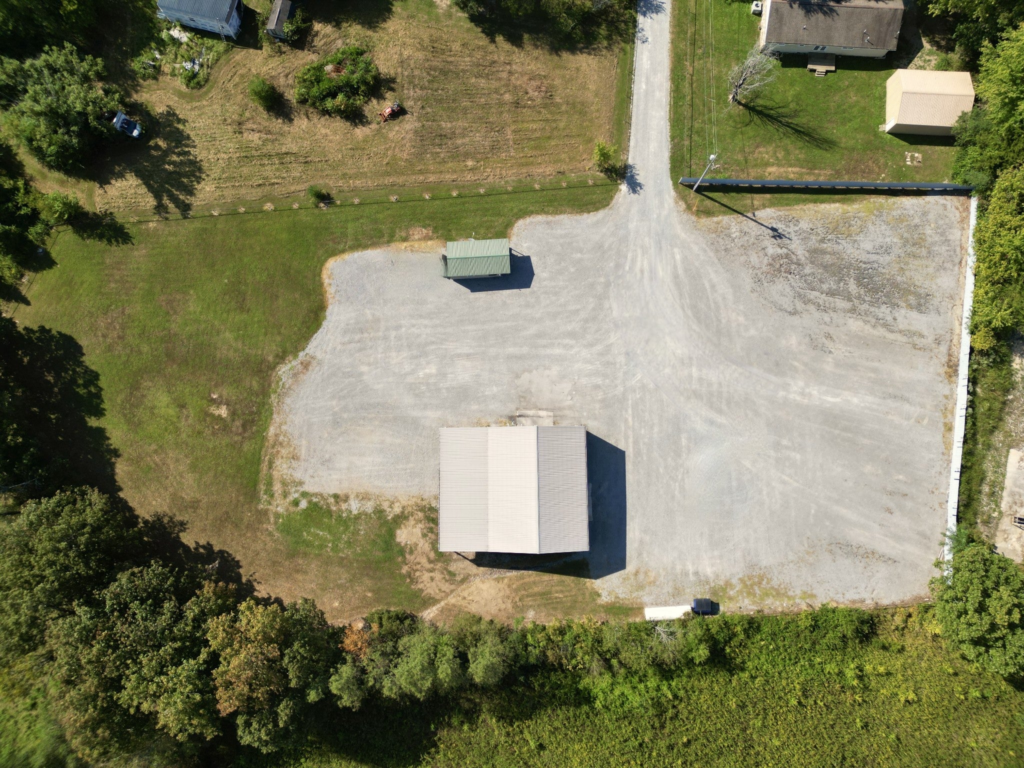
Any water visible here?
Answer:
No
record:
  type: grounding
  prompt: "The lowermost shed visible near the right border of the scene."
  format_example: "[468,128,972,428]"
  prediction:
[885,69,974,136]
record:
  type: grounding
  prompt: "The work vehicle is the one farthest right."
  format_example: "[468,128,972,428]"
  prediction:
[376,99,399,123]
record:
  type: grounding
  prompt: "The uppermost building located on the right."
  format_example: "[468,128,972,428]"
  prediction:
[760,0,904,58]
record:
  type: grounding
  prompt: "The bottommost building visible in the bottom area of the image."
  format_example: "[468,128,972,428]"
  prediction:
[437,426,589,555]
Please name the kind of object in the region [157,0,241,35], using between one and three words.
building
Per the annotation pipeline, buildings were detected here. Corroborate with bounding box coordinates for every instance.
[157,0,241,35]
[885,69,974,136]
[446,238,510,278]
[437,426,589,555]
[269,0,300,39]
[760,0,904,58]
